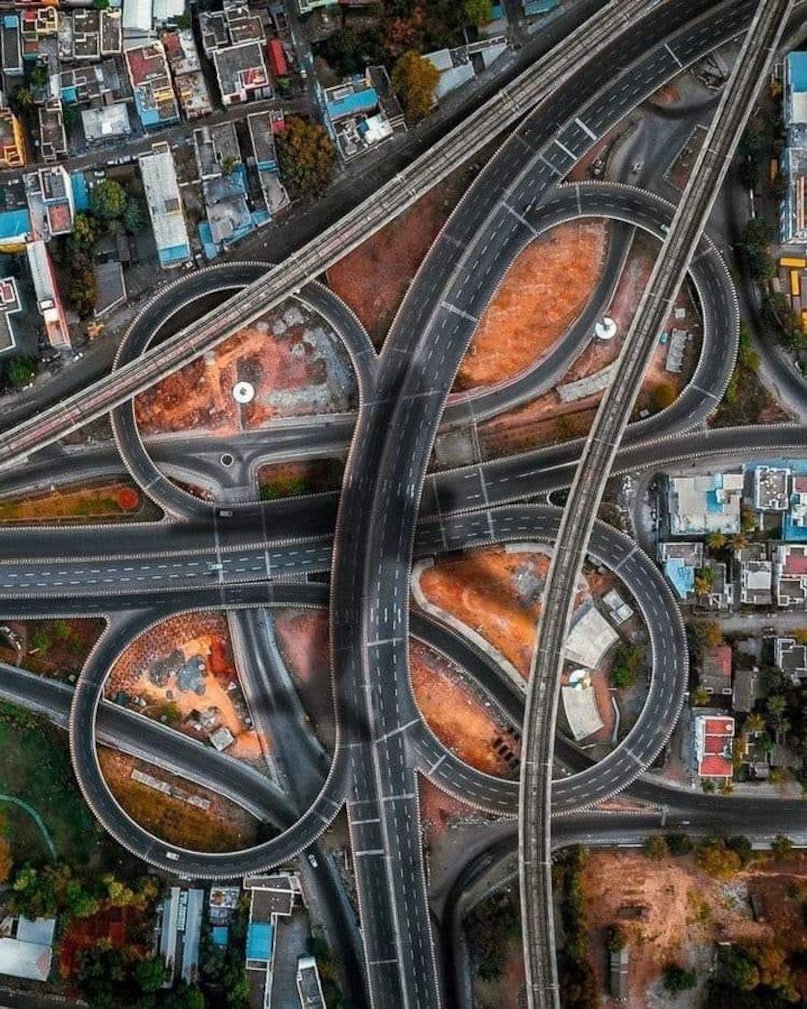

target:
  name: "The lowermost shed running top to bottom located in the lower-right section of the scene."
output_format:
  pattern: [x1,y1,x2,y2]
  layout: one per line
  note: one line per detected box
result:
[608,940,630,999]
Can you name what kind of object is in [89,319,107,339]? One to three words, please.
work vehicle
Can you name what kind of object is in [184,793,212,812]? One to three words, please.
shed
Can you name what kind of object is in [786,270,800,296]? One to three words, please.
vehicle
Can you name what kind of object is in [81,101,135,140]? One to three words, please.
house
